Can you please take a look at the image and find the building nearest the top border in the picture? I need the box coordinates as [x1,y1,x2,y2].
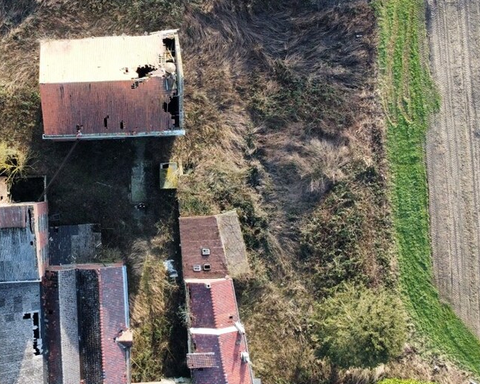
[39,27,187,138]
